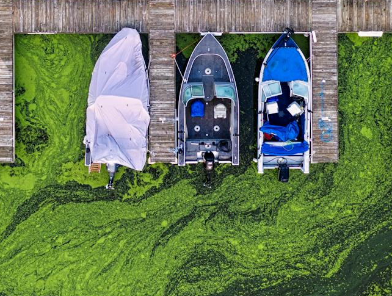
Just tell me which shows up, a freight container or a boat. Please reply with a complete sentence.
Looking from above, you can make out a boat.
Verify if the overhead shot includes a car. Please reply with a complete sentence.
No, no car can be seen from above.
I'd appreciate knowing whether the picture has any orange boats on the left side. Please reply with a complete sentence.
No, I see no orange boat on the left side.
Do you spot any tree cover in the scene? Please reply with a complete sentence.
No, no tree cover is visible.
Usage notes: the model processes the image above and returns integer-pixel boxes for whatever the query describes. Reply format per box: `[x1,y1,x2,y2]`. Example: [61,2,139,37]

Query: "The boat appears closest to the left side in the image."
[84,27,150,193]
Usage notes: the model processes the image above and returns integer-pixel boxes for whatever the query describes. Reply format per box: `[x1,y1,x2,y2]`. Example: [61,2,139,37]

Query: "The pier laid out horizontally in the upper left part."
[15,0,148,35]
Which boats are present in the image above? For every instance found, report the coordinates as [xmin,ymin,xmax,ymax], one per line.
[84,27,150,193]
[255,26,312,189]
[178,33,240,191]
